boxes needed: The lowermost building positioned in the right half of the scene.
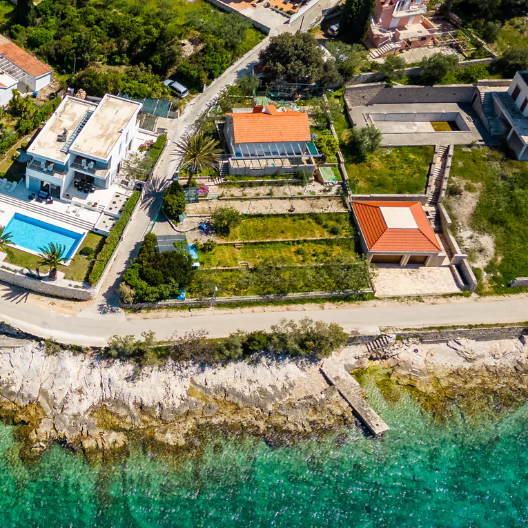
[347,200,442,267]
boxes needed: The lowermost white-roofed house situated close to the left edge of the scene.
[26,93,144,200]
